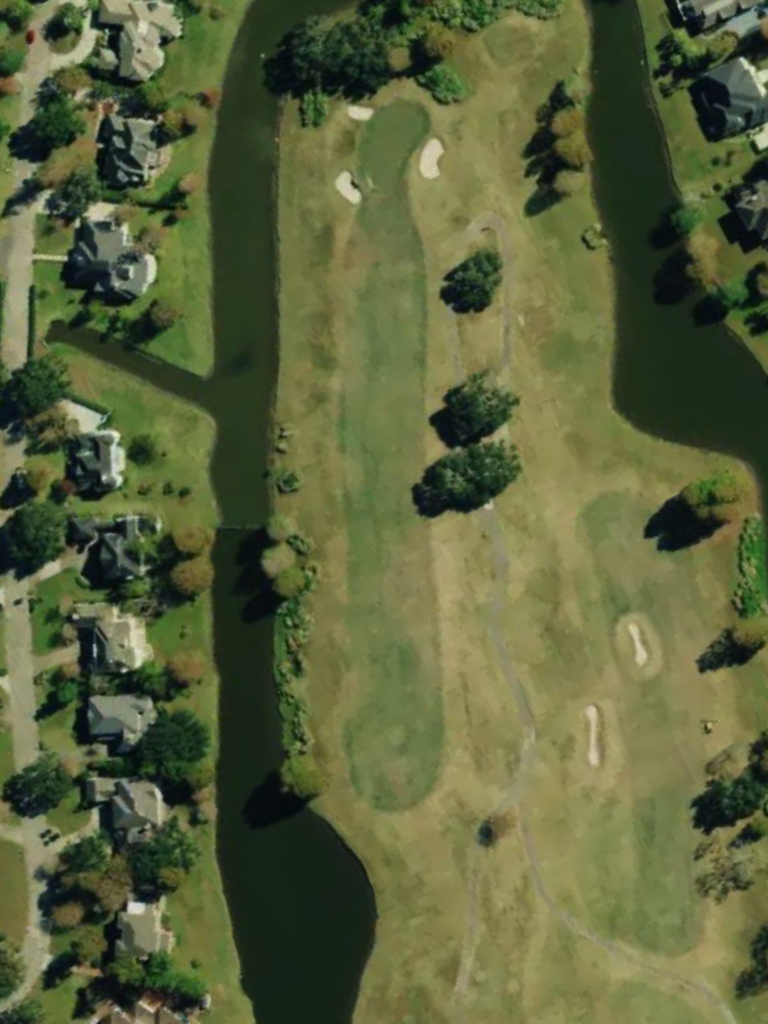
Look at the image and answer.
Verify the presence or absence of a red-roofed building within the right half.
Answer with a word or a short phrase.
No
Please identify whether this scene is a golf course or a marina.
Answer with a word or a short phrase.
golf course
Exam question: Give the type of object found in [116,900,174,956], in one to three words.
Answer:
house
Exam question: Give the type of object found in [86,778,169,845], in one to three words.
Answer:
house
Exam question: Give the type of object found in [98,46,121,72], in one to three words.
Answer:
building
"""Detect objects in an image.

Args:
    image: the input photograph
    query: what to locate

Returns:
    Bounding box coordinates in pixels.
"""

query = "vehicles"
[46,835,59,845]
[40,829,53,838]
[27,30,34,42]
[84,749,97,757]
[11,597,24,606]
